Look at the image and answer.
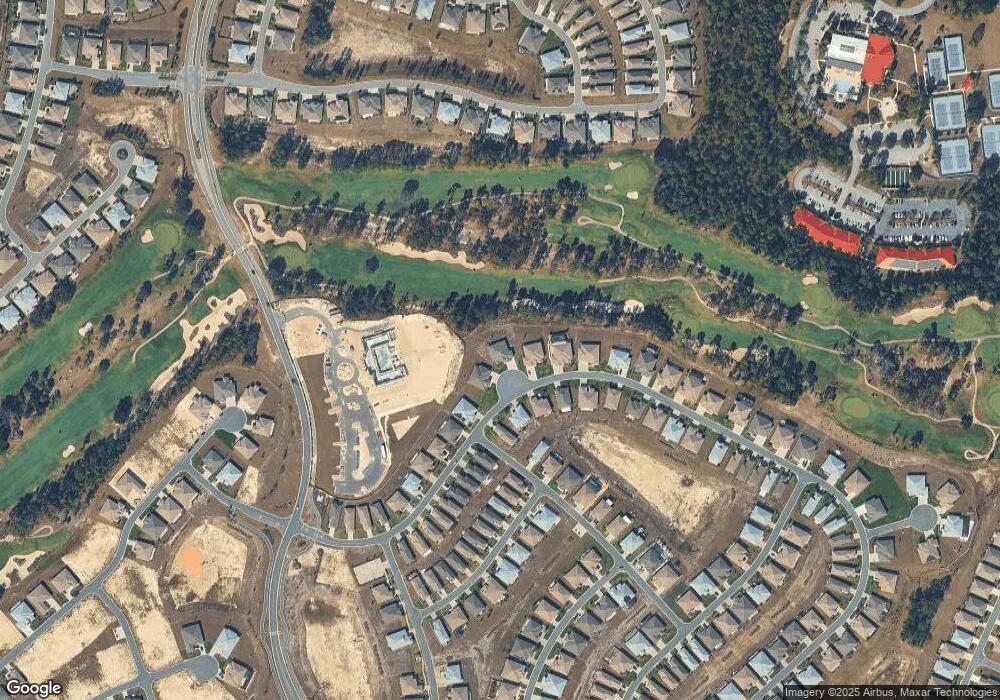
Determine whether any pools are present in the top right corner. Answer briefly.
Yes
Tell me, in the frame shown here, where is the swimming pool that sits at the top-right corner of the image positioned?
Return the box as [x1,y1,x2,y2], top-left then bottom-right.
[823,66,862,102]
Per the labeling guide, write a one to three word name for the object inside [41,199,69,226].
house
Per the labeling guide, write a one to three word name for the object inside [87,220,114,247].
house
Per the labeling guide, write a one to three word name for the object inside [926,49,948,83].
tennis court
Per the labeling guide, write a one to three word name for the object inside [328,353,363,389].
roundabout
